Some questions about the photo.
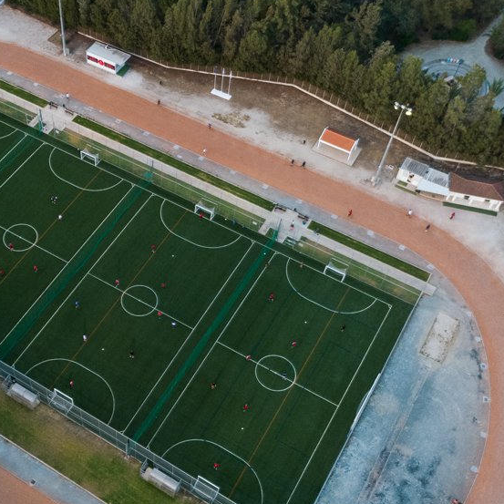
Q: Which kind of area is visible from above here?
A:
sports ground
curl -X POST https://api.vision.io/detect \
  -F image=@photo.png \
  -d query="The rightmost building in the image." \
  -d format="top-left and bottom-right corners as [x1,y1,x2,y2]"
[442,161,504,223]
